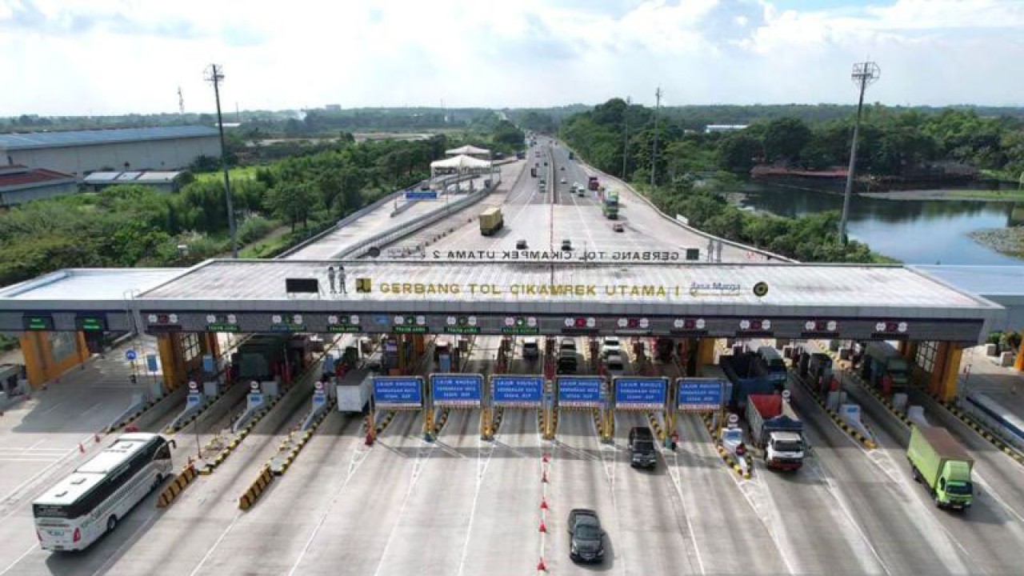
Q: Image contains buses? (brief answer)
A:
Yes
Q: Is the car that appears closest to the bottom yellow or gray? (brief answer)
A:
gray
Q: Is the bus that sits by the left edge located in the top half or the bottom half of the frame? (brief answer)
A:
bottom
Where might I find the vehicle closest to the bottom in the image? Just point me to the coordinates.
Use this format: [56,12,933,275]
[567,498,606,553]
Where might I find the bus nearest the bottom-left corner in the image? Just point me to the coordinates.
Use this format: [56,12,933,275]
[37,433,173,544]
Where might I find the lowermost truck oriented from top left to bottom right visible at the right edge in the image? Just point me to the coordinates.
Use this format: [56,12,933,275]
[889,415,983,503]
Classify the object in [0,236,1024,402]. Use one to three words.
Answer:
toll station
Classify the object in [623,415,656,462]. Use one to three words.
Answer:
car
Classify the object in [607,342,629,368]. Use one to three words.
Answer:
car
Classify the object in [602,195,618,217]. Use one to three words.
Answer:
vehicle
